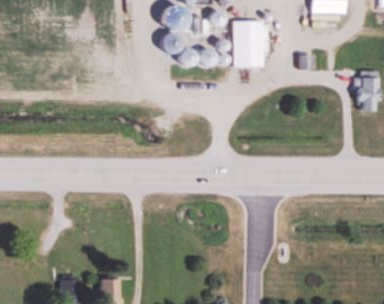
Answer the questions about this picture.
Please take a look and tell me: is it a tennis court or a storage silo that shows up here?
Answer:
storage silo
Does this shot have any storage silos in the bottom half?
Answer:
No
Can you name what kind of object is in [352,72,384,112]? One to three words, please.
house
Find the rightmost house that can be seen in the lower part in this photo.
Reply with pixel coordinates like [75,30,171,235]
[101,279,124,304]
